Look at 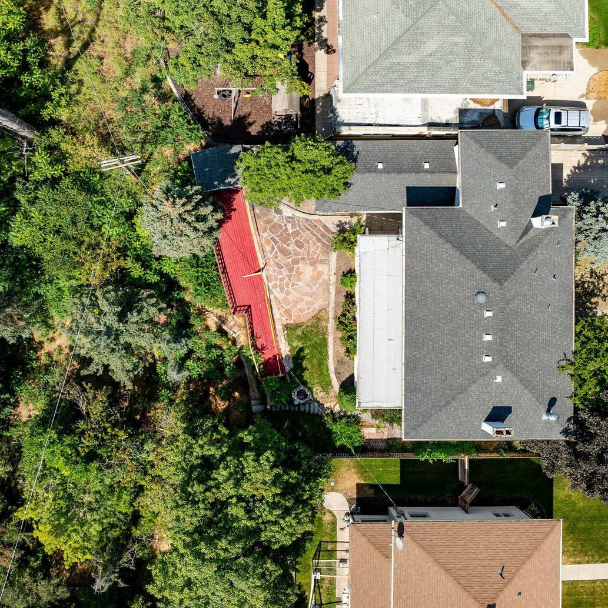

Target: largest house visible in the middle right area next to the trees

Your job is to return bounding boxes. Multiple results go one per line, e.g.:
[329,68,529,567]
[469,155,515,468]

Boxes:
[352,128,577,442]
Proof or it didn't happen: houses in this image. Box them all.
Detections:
[347,506,564,608]
[352,128,577,442]
[334,0,591,100]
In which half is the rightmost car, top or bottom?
top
